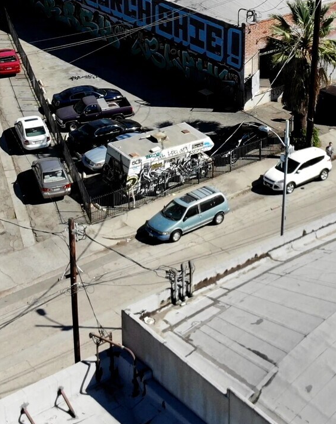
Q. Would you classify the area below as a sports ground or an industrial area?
industrial area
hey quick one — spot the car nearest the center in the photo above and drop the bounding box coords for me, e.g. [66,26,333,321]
[146,183,231,240]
